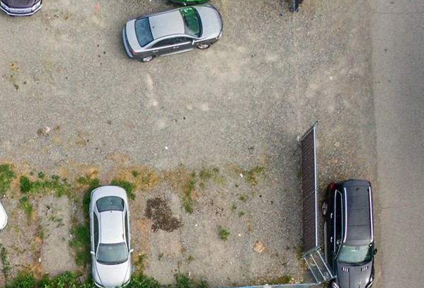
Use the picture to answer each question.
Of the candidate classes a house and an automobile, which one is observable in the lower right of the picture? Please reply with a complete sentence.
What appears in the lower right of the picture is an automobile.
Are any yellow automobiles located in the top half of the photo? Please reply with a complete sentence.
No, no yellow automobile appears in the top half of the photo.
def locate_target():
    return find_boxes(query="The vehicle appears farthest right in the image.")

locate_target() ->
[324,176,381,288]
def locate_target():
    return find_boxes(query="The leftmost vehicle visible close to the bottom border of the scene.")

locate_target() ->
[89,186,136,288]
